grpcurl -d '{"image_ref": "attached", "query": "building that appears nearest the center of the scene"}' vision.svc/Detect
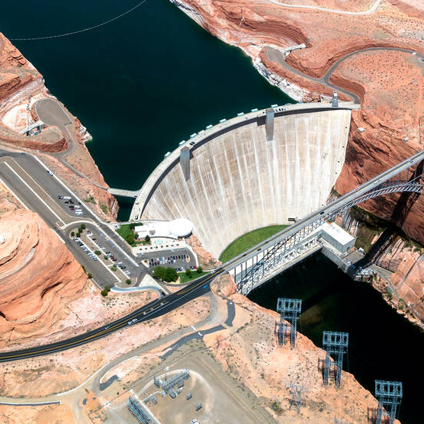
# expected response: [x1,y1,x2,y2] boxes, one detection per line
[135,219,193,242]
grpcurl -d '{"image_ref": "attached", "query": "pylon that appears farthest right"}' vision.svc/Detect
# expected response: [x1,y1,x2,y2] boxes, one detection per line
[370,381,403,424]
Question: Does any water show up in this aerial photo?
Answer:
Yes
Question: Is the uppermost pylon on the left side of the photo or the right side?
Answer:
right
